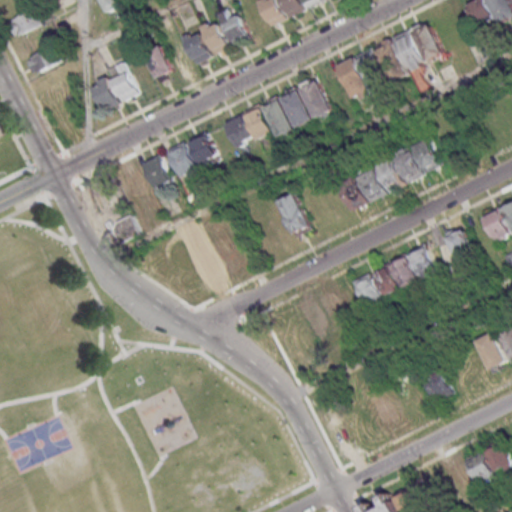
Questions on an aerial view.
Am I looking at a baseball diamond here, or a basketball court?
basketball court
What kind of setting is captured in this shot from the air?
residential area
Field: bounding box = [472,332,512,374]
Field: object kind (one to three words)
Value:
house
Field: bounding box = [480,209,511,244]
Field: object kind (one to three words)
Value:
house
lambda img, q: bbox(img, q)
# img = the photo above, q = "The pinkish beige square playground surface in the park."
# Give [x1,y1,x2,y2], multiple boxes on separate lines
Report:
[134,386,198,458]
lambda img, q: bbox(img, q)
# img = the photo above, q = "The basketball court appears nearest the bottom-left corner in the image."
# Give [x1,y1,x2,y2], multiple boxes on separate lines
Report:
[6,416,73,473]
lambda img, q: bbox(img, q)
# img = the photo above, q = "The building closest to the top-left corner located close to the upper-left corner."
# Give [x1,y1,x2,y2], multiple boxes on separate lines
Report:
[8,18,44,38]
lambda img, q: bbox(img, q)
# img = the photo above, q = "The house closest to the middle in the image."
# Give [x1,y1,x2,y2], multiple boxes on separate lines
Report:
[274,192,309,236]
